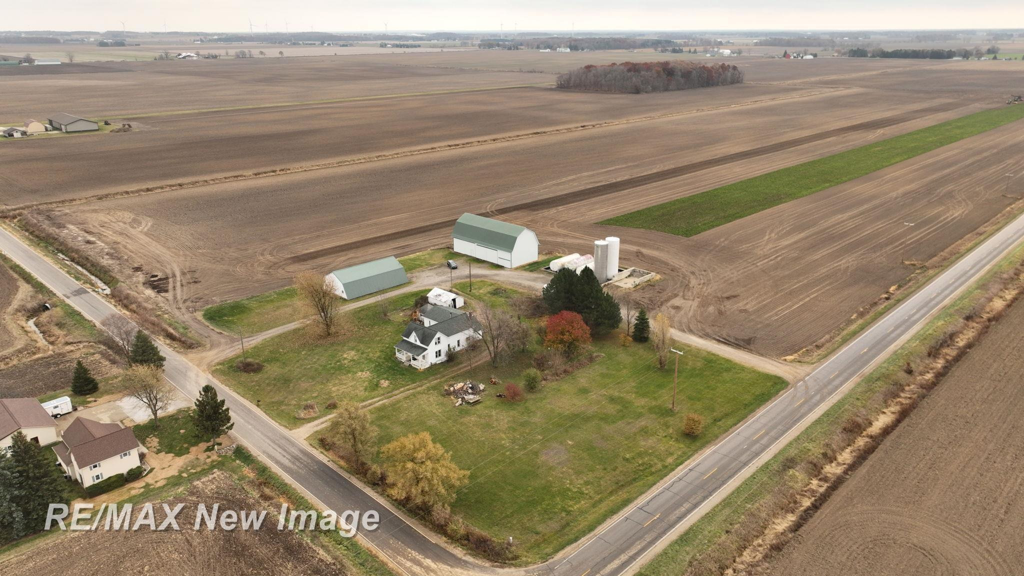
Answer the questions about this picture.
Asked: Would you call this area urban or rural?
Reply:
rural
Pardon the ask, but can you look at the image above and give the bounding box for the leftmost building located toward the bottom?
[0,397,59,460]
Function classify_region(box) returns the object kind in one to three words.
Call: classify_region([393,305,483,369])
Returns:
house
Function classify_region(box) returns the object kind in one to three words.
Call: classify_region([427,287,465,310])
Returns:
shed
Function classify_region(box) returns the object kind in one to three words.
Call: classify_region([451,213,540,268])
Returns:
barn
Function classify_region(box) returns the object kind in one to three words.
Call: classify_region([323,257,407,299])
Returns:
shed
